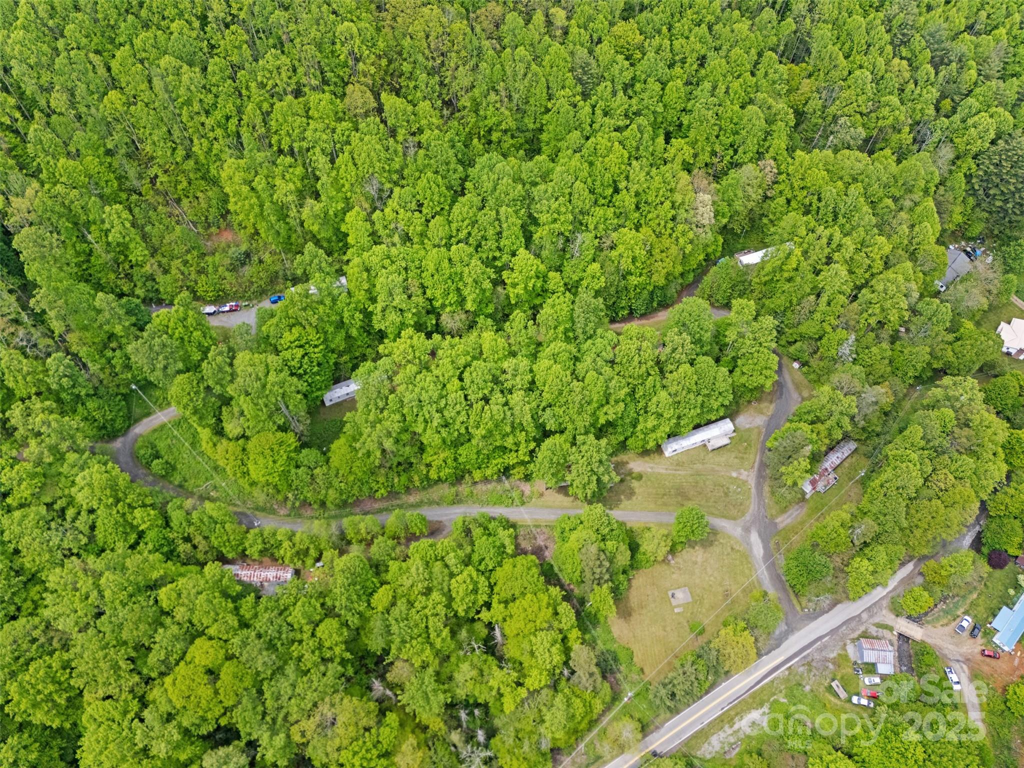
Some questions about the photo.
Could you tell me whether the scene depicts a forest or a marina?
forest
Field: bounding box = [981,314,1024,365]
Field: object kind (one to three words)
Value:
house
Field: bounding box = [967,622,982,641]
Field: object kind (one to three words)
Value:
car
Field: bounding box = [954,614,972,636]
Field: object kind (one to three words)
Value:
vehicle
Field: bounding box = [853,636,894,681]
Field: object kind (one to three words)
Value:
barn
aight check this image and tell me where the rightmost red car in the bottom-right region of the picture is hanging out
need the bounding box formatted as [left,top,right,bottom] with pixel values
[979,648,1002,662]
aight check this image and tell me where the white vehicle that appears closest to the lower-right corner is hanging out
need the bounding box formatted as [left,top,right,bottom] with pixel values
[944,664,962,694]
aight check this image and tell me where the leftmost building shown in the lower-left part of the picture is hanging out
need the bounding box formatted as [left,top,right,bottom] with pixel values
[223,563,298,600]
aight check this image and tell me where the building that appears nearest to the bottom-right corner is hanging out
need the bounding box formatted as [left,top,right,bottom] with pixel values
[980,592,1024,658]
